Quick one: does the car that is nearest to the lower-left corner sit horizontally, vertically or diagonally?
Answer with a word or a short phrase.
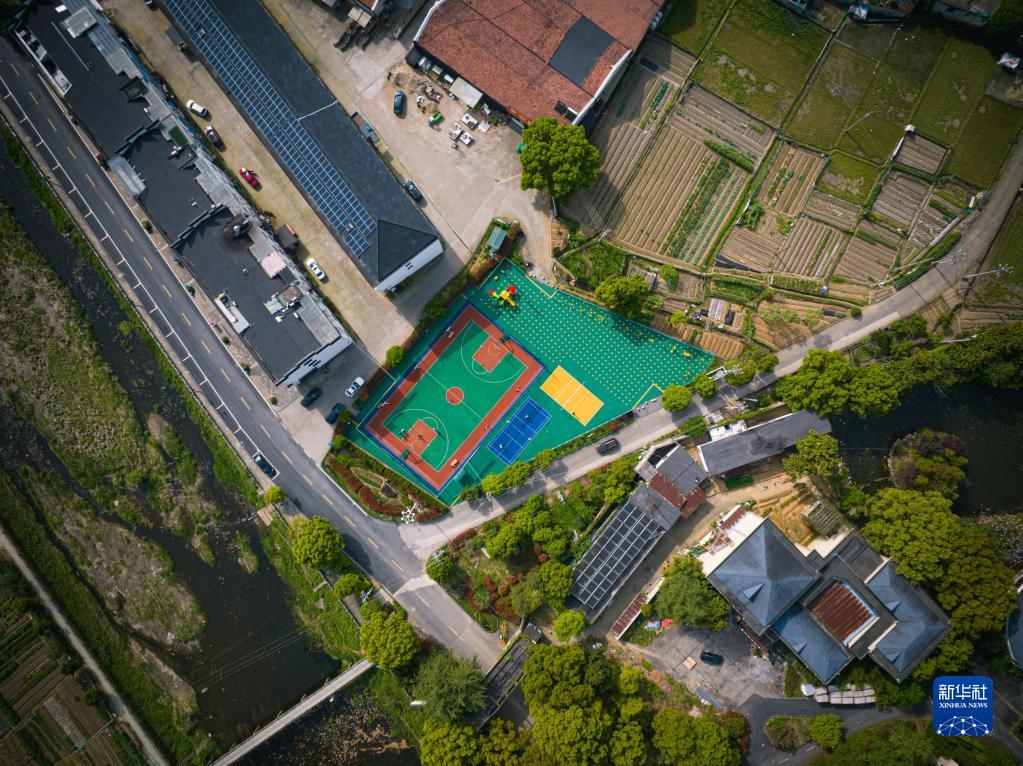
diagonally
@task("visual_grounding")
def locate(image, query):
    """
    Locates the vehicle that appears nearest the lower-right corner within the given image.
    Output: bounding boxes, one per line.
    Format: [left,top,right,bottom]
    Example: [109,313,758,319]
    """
[700,651,724,664]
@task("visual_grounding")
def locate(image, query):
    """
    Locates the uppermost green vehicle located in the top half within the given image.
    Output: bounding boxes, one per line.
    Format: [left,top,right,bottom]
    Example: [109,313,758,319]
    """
[429,109,444,124]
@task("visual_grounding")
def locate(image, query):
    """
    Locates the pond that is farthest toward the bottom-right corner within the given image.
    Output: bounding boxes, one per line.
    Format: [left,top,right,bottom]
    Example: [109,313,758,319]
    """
[833,383,1023,514]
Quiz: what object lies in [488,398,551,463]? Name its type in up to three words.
sports court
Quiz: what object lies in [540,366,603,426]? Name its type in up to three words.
sports court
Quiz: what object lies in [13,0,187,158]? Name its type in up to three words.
building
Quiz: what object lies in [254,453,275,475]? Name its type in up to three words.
car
